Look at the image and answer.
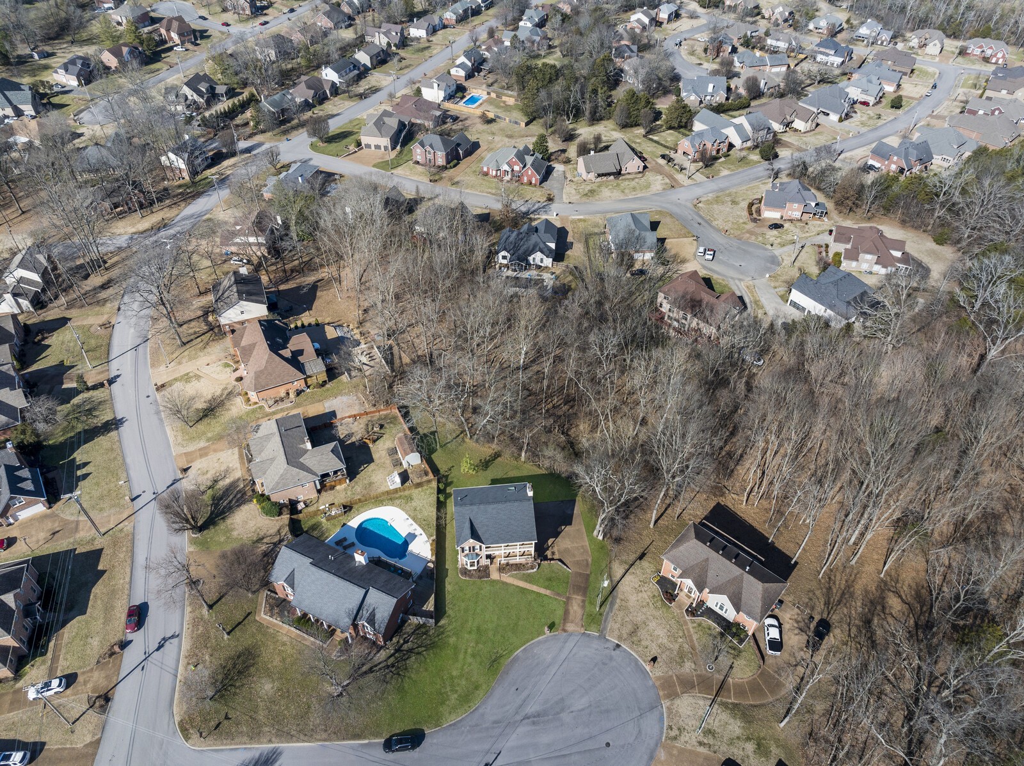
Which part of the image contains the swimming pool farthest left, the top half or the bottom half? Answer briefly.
bottom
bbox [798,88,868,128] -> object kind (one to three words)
house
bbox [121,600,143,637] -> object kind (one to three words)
car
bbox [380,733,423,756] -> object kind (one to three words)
car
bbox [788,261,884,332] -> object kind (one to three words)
house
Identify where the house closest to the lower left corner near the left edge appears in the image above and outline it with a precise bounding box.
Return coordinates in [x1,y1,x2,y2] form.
[0,552,56,692]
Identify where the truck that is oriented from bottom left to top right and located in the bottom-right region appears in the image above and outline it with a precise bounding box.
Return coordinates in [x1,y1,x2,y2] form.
[802,615,834,654]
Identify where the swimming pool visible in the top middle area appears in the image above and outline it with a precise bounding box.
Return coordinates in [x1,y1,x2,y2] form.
[461,92,489,105]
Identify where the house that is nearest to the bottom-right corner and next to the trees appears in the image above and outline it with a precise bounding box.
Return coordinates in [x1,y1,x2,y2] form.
[660,517,789,634]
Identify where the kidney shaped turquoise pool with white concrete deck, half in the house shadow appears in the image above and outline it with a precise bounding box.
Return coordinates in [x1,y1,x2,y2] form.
[325,506,432,577]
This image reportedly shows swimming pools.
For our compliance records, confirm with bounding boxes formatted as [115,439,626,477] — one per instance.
[325,506,432,577]
[461,92,489,105]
